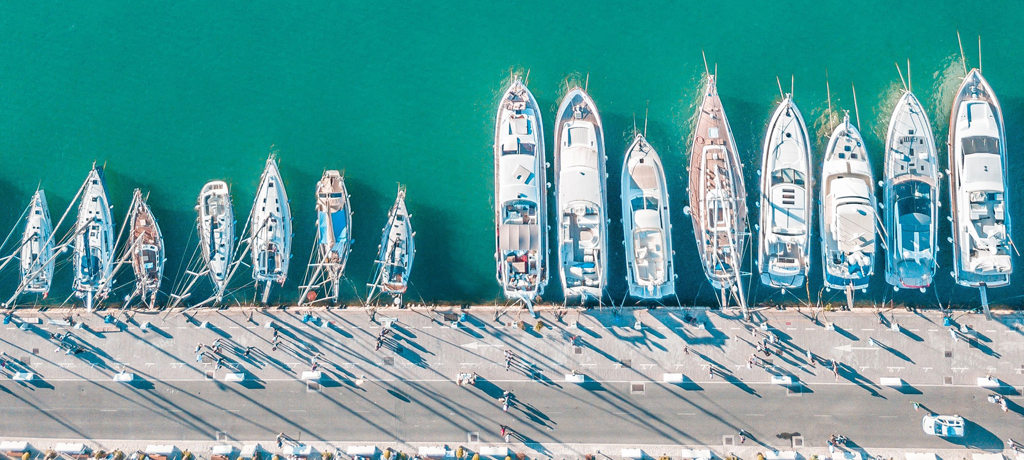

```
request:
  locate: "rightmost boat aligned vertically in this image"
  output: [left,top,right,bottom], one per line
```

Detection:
[948,67,1020,321]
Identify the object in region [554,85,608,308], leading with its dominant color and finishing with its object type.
white boat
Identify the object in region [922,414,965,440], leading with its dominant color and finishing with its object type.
white car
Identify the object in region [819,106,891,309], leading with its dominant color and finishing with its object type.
white boat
